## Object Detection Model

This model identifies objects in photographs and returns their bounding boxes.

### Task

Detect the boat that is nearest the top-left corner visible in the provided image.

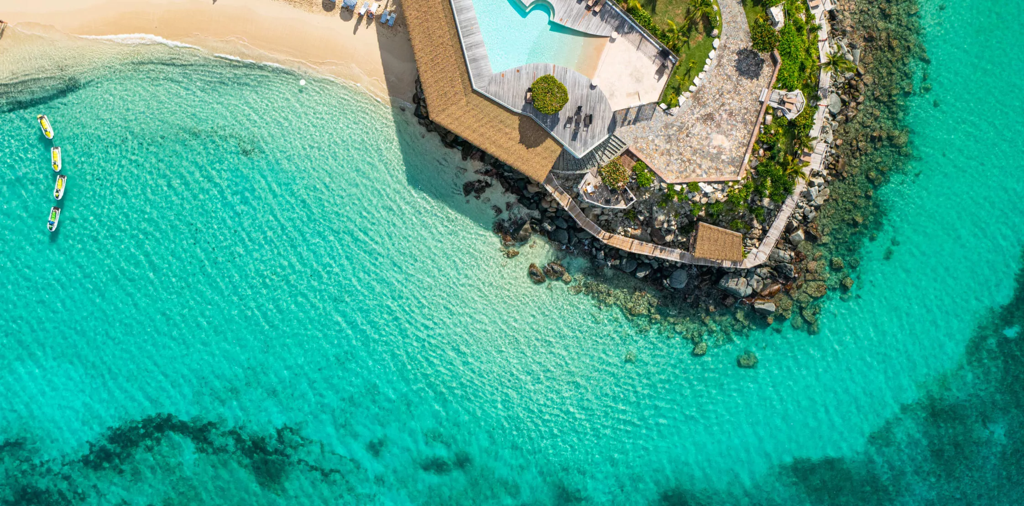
[39,113,53,138]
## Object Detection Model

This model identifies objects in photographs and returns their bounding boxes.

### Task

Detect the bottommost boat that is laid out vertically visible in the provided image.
[47,206,62,231]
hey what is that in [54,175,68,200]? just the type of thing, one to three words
boat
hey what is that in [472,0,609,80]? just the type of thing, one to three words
swimming pool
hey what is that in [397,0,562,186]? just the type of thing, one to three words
building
